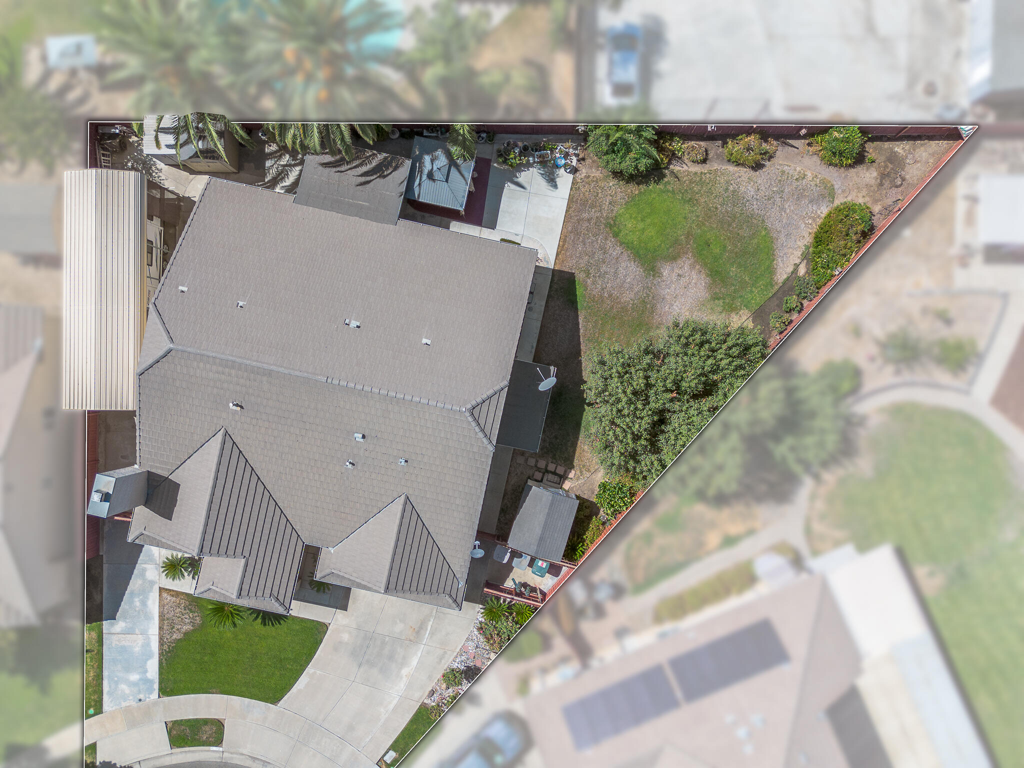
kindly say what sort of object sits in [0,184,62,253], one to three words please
shed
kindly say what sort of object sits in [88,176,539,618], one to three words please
house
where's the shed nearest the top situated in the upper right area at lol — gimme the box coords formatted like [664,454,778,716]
[953,0,1024,113]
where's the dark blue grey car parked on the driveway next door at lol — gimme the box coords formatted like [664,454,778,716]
[436,708,528,768]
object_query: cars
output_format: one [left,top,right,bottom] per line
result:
[436,708,528,768]
[602,24,645,111]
